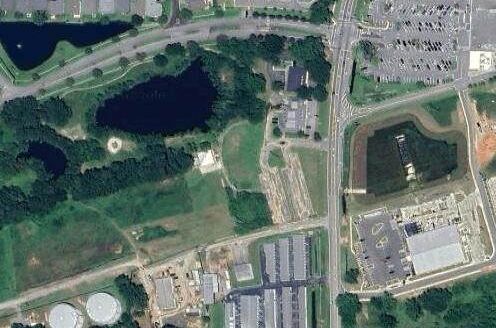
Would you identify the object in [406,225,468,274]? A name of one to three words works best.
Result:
building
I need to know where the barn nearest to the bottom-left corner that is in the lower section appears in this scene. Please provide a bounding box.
[156,277,176,309]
